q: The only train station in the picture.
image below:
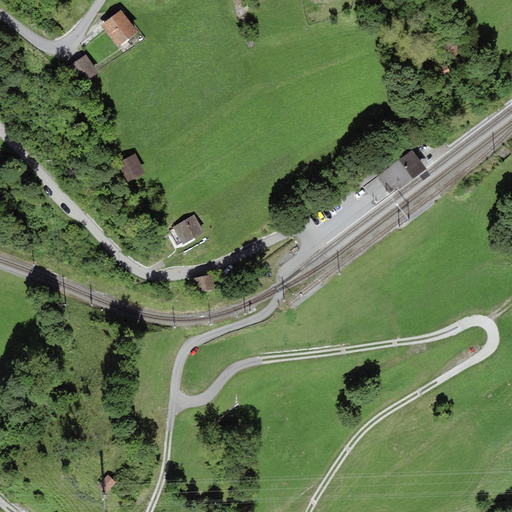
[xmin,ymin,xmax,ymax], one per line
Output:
[303,99,512,272]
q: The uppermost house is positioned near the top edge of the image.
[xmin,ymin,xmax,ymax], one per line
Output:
[102,10,138,47]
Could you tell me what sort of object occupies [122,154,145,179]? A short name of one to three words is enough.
barn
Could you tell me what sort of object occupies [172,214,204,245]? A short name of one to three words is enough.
house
